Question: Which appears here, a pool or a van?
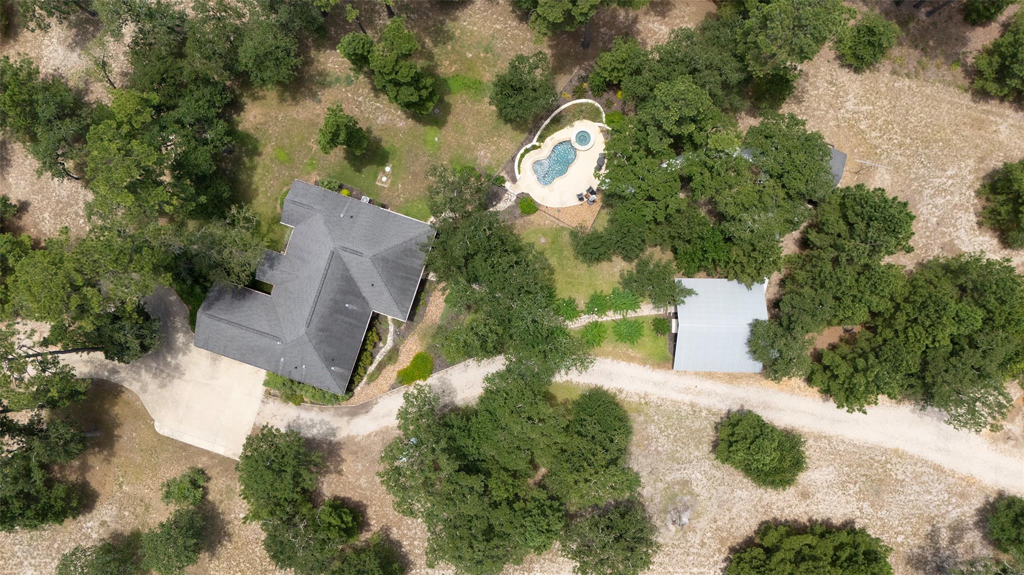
pool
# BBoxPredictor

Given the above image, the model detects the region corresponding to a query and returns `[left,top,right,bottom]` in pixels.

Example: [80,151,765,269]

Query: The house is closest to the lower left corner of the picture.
[193,178,436,397]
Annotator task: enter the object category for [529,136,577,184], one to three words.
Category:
swimming pool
